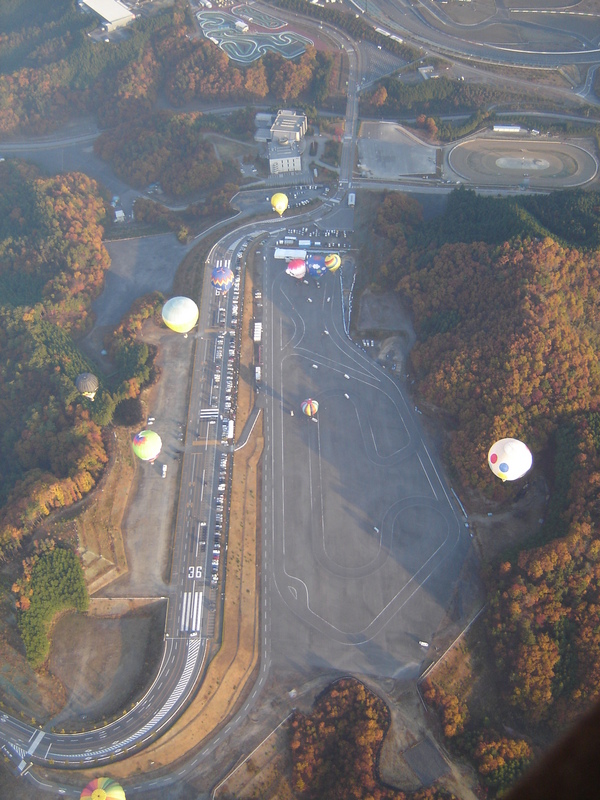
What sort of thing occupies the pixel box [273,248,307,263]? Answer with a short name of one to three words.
shed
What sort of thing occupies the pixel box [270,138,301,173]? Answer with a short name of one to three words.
building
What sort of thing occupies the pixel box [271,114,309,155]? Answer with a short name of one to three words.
building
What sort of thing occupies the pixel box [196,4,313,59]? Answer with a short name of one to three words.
race track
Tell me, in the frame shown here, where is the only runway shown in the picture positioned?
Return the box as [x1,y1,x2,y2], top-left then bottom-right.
[166,262,246,641]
